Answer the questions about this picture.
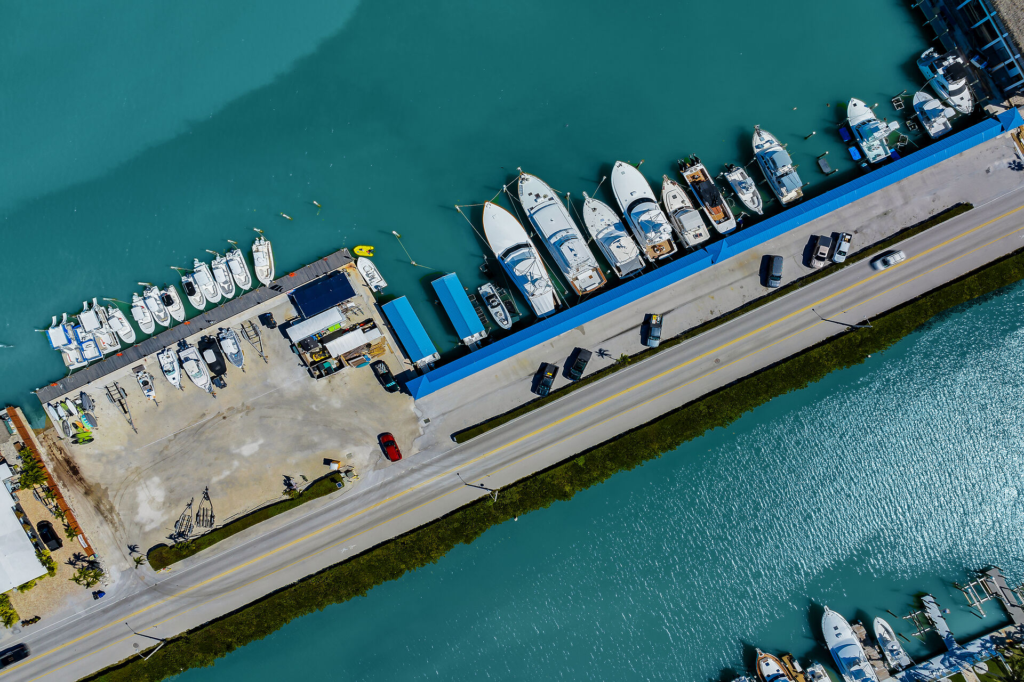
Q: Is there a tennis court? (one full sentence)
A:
No, the frame has no tennis court in it.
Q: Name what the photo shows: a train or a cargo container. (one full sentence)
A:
The one in the frame is a cargo container.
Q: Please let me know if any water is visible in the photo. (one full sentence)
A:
Yes, there's water in this view.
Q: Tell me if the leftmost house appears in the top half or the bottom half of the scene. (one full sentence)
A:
Seen from above, the leftmost house lies in the bottom half of the view.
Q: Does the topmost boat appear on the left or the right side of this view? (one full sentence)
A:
It is on the right.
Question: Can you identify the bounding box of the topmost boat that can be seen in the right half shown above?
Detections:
[914,48,974,114]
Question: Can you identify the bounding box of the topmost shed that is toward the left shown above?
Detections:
[294,272,357,318]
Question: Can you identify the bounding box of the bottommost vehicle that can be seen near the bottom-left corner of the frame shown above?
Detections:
[0,644,30,668]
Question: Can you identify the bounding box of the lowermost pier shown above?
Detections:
[851,624,889,681]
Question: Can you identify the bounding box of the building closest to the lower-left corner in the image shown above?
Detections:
[0,459,56,594]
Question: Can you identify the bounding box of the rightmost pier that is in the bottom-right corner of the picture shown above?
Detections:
[978,562,1024,622]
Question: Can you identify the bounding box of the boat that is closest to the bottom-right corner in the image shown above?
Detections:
[874,618,913,675]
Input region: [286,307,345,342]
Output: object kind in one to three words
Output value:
shipping container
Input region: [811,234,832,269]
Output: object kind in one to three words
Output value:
truck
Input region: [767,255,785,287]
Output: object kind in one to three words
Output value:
car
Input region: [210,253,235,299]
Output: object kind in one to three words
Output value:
boat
